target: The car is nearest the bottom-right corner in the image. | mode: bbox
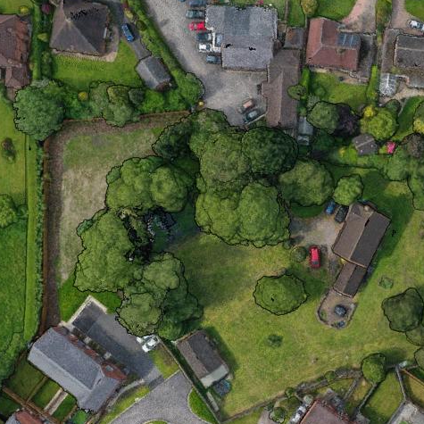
[292,403,309,424]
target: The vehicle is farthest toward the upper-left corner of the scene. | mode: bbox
[120,21,136,43]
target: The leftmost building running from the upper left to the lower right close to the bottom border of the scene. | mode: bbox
[26,325,139,417]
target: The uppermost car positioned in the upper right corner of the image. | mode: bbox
[407,17,424,30]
